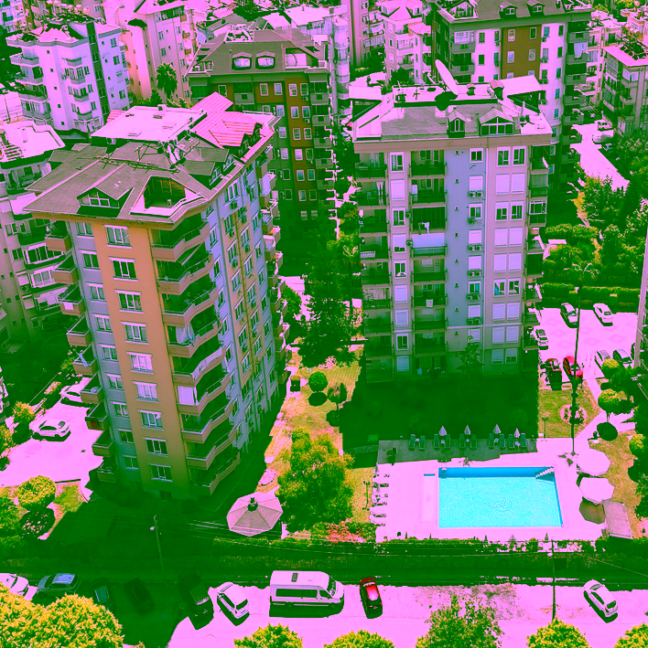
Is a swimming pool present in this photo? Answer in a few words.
Yes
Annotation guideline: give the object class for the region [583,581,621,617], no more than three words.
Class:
car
